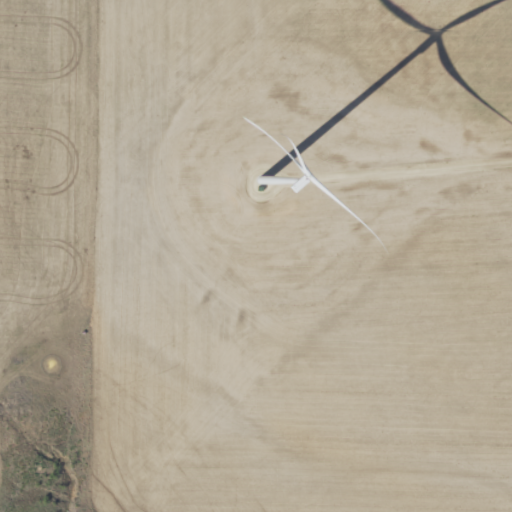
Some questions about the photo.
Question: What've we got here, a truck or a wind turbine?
wind turbine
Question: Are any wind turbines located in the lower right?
No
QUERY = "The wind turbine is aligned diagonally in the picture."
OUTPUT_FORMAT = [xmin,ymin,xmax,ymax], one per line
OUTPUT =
[244,117,389,255]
